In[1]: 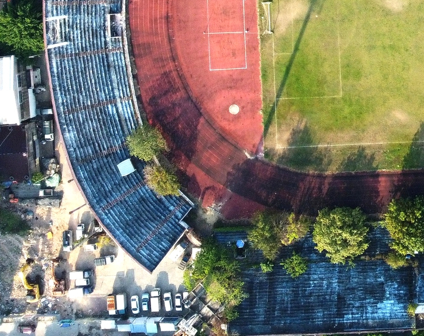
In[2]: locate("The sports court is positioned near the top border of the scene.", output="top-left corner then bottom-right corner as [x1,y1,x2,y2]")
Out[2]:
[207,0,247,71]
